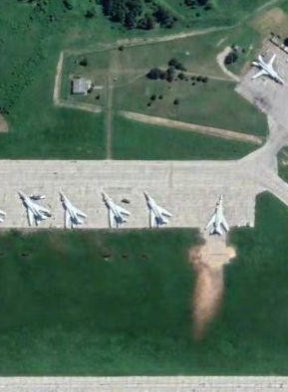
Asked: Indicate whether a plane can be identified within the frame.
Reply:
Yes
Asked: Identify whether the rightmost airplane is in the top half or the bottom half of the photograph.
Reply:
top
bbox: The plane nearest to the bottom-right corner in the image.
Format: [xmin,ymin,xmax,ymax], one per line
[204,194,230,237]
